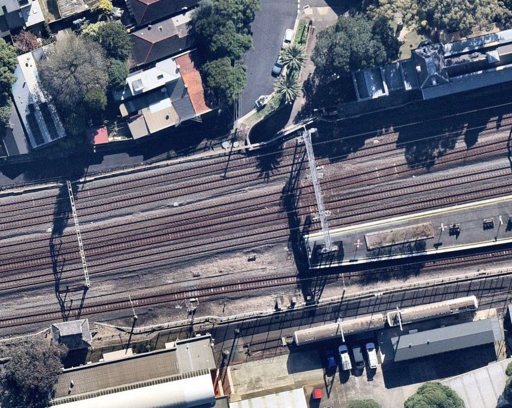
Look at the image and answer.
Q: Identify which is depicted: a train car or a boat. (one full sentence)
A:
I can see a train car in this picture.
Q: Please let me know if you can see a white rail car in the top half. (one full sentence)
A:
No, no white rail car can be made out in the top half.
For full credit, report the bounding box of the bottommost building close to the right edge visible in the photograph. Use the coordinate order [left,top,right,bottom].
[391,317,503,363]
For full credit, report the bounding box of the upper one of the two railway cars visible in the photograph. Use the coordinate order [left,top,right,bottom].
[387,294,479,327]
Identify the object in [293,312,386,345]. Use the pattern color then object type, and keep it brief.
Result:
white rail car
